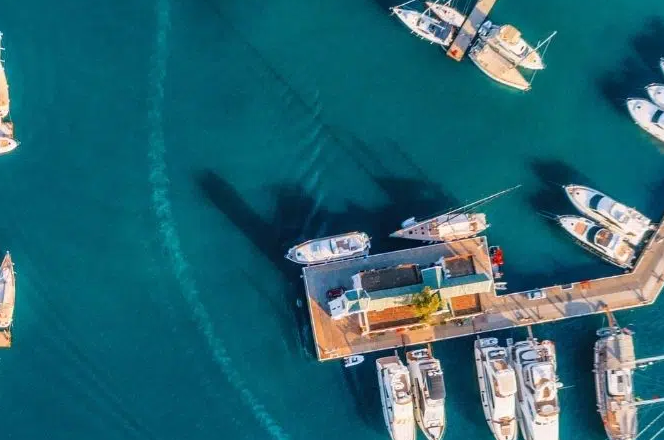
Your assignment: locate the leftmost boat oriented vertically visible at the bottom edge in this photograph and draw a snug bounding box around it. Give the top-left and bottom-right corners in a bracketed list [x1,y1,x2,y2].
[368,346,416,440]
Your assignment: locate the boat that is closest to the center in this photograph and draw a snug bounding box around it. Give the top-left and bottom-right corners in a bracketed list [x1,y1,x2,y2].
[283,232,369,263]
